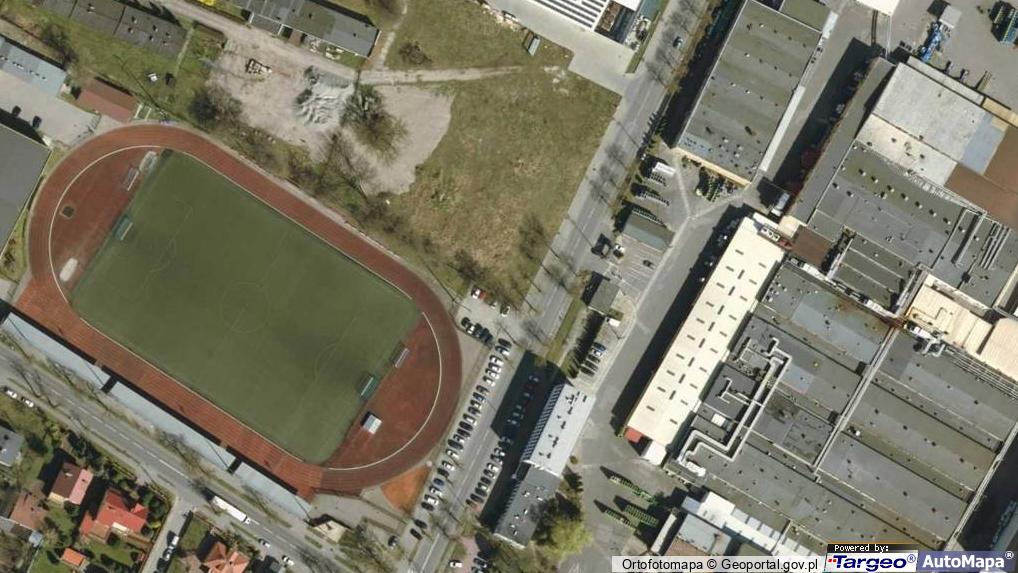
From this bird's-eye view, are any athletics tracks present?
Yes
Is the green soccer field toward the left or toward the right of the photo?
left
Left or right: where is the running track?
left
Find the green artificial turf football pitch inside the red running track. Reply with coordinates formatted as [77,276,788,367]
[72,148,420,465]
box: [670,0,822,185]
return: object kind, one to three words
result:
warehouse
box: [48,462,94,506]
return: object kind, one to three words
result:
house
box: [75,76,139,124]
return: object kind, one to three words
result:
building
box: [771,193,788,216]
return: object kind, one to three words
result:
vehicle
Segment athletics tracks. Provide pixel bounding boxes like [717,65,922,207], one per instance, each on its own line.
[7,120,466,506]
